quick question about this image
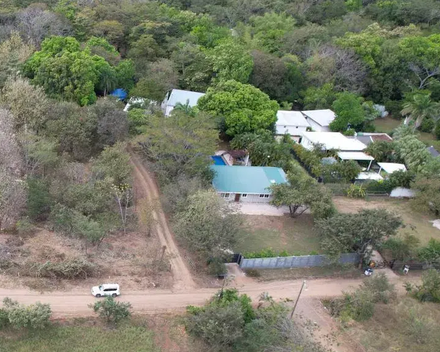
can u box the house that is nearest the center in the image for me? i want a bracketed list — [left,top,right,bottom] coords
[203,163,287,204]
